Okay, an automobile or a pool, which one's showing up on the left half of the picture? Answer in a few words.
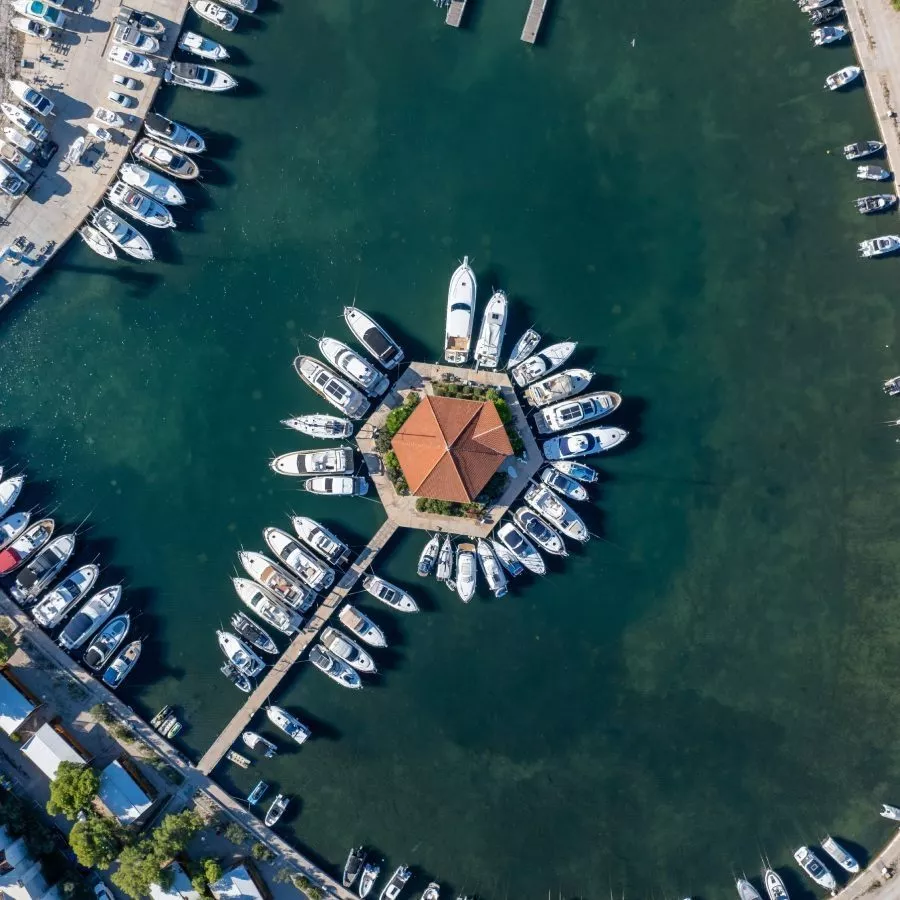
automobile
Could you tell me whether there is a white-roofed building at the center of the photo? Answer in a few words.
No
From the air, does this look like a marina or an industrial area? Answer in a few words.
marina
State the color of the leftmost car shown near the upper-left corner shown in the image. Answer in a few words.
black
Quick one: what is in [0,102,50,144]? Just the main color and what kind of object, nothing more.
white boat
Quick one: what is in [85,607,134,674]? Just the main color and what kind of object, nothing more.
blue boat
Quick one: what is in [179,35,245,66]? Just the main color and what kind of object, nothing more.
white boat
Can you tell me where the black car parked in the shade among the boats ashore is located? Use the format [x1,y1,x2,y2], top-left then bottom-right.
[36,140,60,166]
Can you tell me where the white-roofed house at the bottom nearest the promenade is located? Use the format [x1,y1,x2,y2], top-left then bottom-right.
[208,852,291,900]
